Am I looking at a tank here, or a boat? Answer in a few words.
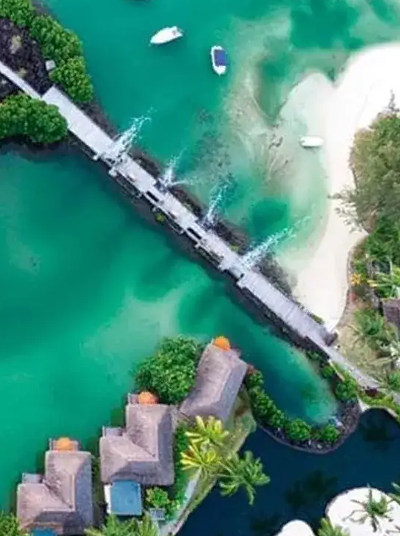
boat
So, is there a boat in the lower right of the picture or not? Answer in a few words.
No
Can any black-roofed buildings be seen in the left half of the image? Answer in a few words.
No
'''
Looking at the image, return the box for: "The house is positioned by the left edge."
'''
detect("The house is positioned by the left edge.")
[17,438,94,536]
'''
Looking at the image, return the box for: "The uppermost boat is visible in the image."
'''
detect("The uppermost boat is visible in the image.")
[150,25,184,44]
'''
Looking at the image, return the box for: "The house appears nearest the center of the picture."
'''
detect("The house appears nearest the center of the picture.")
[178,336,247,425]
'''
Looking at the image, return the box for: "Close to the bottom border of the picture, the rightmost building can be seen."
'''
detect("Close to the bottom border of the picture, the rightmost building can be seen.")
[99,392,175,515]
